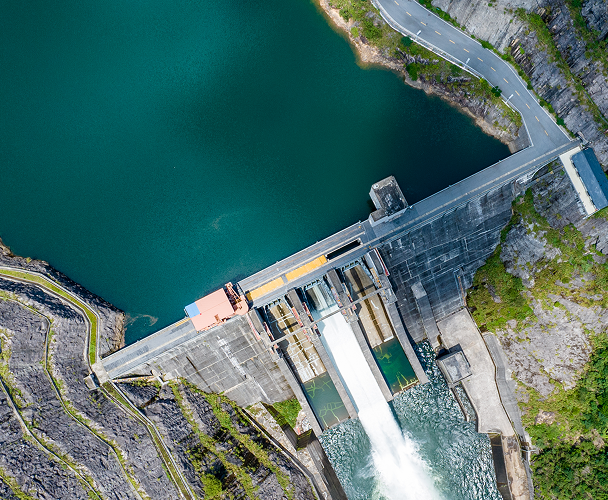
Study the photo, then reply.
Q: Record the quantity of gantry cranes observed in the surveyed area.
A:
1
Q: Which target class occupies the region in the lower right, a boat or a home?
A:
home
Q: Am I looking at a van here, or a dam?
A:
dam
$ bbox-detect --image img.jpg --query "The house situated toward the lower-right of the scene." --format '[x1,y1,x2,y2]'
[435,350,472,389]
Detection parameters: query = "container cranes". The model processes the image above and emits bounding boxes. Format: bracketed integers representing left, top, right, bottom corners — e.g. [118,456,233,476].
[185,276,252,333]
